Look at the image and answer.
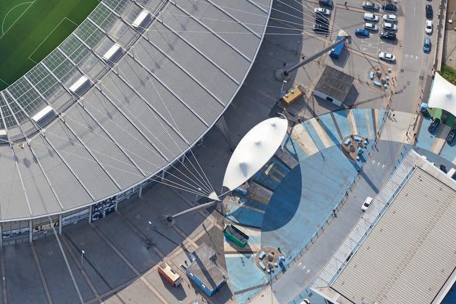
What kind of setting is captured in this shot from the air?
sports ground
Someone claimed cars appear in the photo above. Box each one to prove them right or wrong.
[355,29,370,36]
[361,196,373,213]
[426,6,433,19]
[363,23,379,31]
[362,1,379,11]
[446,129,456,143]
[313,23,328,33]
[425,20,432,34]
[380,30,397,41]
[382,3,397,11]
[382,22,397,31]
[379,52,395,61]
[436,161,448,174]
[298,297,313,304]
[318,0,335,7]
[315,15,329,23]
[423,39,431,52]
[315,8,329,17]
[427,118,441,132]
[382,14,397,22]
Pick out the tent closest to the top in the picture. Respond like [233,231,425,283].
[428,73,456,117]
